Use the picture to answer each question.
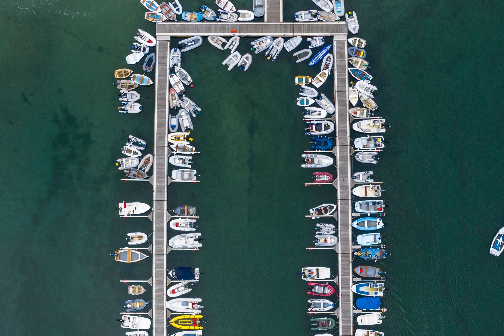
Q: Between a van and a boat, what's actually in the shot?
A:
boat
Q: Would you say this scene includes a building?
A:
No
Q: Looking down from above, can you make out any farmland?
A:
No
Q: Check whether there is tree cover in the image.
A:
No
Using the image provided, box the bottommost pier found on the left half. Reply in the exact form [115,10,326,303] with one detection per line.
[152,254,167,336]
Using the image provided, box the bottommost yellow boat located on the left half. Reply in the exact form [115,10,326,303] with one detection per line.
[168,314,203,330]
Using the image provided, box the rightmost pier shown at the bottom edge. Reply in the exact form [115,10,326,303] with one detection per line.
[337,253,353,335]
